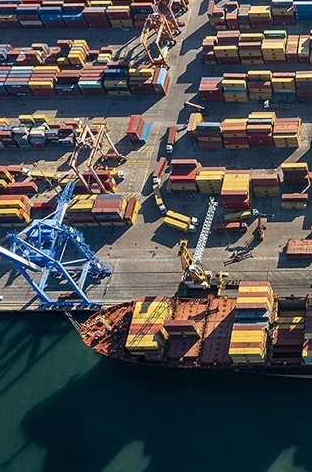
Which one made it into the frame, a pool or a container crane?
container crane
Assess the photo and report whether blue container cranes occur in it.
Yes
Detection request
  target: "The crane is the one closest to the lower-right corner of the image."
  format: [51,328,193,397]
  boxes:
[161,196,250,296]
